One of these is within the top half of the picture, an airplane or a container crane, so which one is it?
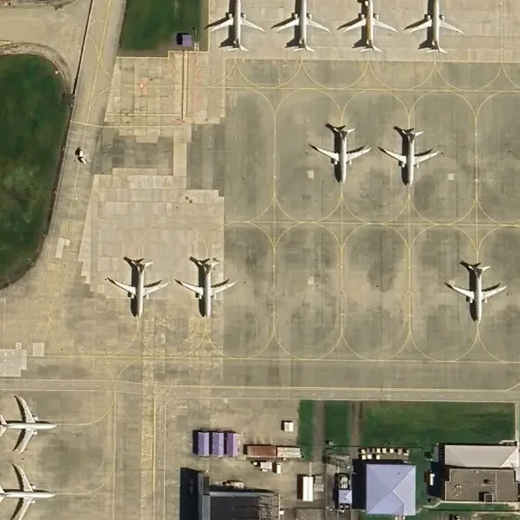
airplane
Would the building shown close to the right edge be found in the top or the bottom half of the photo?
bottom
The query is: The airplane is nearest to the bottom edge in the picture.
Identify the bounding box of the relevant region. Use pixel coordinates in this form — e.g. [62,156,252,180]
[0,467,54,520]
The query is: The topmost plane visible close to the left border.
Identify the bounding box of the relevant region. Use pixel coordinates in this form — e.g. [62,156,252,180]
[0,397,56,454]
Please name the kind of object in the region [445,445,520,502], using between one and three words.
building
